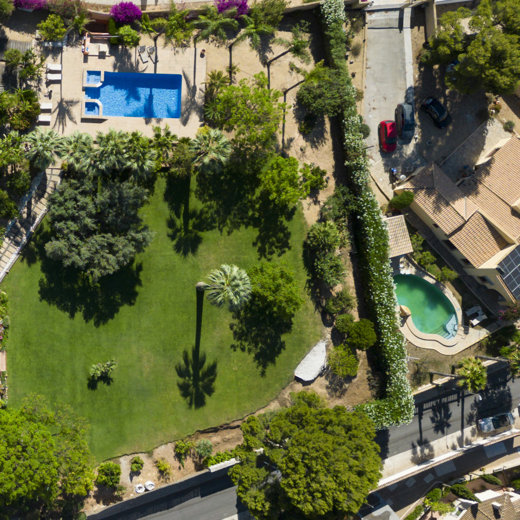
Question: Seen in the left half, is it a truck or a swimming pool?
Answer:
swimming pool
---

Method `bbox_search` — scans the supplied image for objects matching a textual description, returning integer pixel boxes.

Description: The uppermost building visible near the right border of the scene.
[393,134,520,302]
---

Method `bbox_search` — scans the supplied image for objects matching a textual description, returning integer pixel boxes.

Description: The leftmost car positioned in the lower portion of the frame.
[476,409,516,433]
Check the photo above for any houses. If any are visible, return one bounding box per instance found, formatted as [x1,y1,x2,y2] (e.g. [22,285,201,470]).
[393,134,520,302]
[427,491,520,520]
